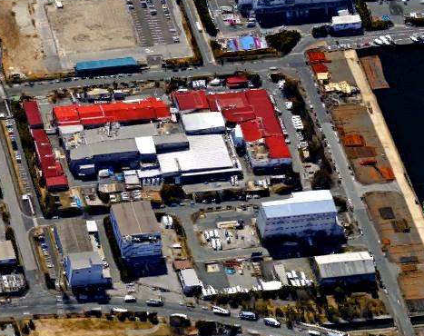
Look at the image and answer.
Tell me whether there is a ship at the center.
No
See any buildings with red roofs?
Yes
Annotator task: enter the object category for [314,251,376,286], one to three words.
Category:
building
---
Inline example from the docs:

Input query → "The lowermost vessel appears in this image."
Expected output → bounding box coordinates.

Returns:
[360,56,390,89]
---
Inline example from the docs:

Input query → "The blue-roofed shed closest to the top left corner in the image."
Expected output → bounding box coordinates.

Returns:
[74,56,140,74]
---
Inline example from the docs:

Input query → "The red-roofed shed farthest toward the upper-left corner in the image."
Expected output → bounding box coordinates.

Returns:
[22,100,44,131]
